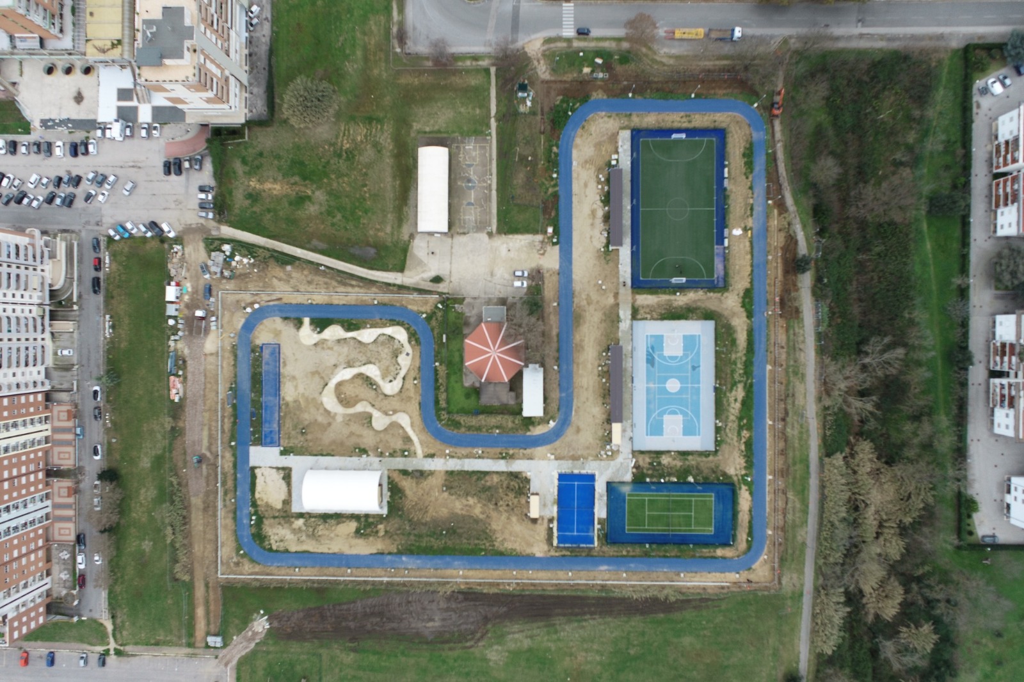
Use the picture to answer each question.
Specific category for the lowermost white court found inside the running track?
basketball court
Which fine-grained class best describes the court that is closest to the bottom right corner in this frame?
tennis court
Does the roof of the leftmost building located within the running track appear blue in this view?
No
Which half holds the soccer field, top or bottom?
top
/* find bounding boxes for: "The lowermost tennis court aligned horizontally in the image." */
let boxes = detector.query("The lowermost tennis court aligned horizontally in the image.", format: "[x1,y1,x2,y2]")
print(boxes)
[607,482,734,544]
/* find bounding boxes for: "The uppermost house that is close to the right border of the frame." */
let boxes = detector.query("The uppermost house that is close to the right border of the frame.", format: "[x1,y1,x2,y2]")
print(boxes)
[990,101,1024,172]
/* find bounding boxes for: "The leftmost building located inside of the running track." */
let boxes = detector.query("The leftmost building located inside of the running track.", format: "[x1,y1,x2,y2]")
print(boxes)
[300,469,386,513]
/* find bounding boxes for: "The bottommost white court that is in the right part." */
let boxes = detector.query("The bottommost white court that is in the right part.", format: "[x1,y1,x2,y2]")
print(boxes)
[633,321,715,451]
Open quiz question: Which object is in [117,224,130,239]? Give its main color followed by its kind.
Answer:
blue vehicle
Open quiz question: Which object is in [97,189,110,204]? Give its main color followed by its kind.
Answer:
white vehicle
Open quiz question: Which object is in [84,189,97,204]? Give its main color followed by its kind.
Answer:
gray vehicle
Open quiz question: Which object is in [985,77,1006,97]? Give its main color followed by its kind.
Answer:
white vehicle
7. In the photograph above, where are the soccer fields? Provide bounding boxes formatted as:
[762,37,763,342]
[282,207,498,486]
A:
[632,130,726,288]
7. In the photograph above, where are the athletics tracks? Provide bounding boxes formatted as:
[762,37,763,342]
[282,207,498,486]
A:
[236,99,766,572]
